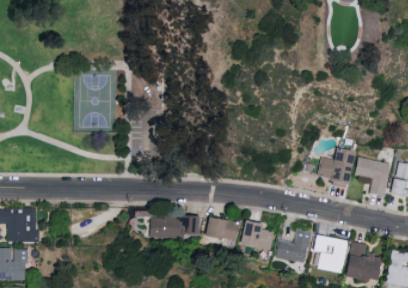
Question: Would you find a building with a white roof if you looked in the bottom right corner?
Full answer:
Yes, a building with a white roof is visible in the bottom right corner.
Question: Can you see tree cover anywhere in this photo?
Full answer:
Yes, tree cover shows up in the scene.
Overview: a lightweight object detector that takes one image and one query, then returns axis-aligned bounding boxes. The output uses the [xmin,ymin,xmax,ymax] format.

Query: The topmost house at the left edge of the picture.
[0,208,38,243]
